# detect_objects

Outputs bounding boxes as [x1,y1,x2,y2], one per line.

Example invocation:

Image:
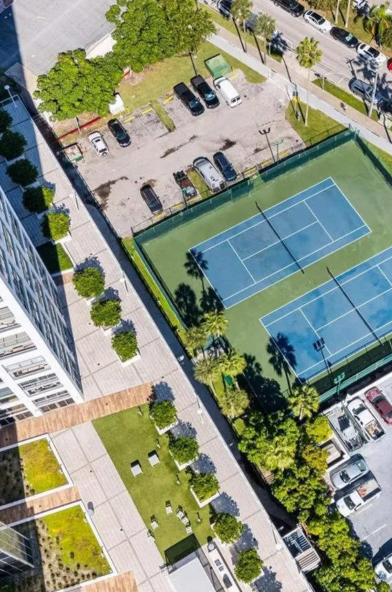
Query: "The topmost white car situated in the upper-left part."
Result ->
[88,130,108,157]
